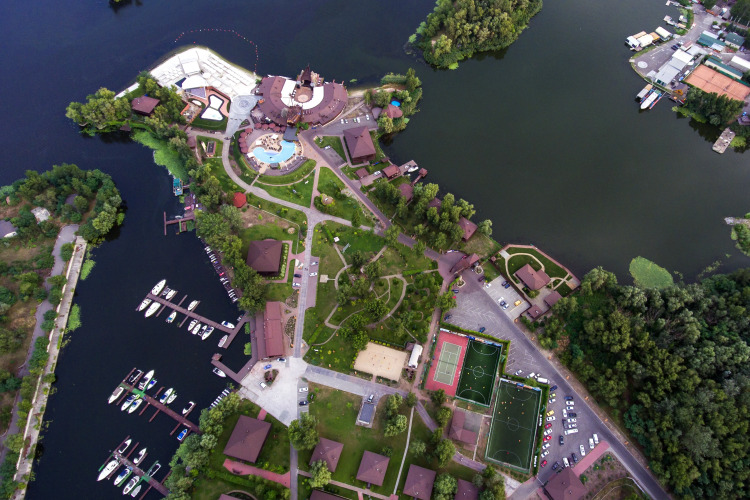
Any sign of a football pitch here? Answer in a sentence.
Yes, a football pitch appears in the view.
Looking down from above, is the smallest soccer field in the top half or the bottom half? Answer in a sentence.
The smallest soccer field is in the bottom half of the image.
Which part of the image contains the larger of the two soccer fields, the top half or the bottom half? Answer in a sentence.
Seen from above, the larger of the two soccer fields lies in the bottom half of the view.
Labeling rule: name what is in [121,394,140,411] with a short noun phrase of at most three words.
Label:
boat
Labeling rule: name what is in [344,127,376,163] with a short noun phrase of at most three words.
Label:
house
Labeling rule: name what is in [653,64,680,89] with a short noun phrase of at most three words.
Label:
building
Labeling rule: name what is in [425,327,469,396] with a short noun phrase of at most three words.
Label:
tennis court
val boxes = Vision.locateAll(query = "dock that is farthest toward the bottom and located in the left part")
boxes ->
[99,436,163,500]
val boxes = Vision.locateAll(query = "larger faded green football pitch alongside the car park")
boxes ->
[486,377,543,474]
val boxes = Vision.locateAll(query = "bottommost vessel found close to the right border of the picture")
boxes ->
[712,127,736,154]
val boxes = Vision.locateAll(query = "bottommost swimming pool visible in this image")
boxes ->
[249,132,304,173]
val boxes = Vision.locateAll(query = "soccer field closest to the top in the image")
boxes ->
[456,336,503,406]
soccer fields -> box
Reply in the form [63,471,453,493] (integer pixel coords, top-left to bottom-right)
[486,377,543,474]
[456,336,503,406]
